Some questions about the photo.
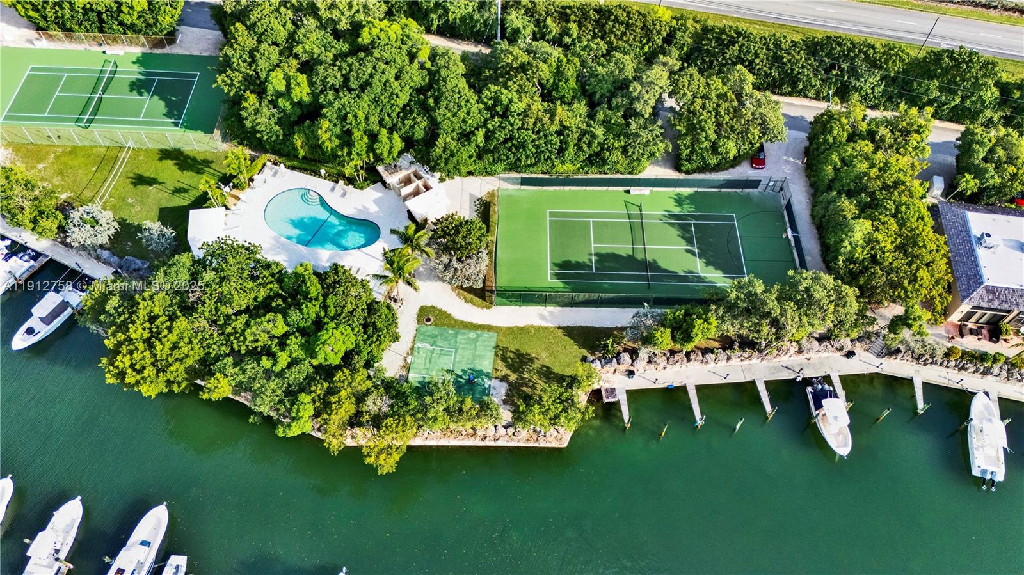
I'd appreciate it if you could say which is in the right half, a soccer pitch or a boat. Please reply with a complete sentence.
Looking in the right half, you will find a boat.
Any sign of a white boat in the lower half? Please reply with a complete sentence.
Yes, a white boat is visible in the lower half.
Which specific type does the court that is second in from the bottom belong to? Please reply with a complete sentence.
It turns out the court that is second in from the bottom is a tennis court.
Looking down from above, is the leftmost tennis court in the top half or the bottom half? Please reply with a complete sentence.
It is in the top half that the leftmost tennis court appears.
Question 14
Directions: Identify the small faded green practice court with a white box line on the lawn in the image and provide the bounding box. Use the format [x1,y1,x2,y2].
[406,326,497,403]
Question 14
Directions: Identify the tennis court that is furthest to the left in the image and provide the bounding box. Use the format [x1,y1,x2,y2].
[0,46,219,151]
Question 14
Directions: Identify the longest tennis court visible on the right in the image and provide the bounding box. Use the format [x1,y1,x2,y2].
[495,189,801,308]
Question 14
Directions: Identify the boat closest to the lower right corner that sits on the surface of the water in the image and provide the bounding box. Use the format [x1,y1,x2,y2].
[964,392,1014,493]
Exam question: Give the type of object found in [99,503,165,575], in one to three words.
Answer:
boat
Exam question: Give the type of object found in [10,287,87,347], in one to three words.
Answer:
boat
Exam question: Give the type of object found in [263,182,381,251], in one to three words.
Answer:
swimming pool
